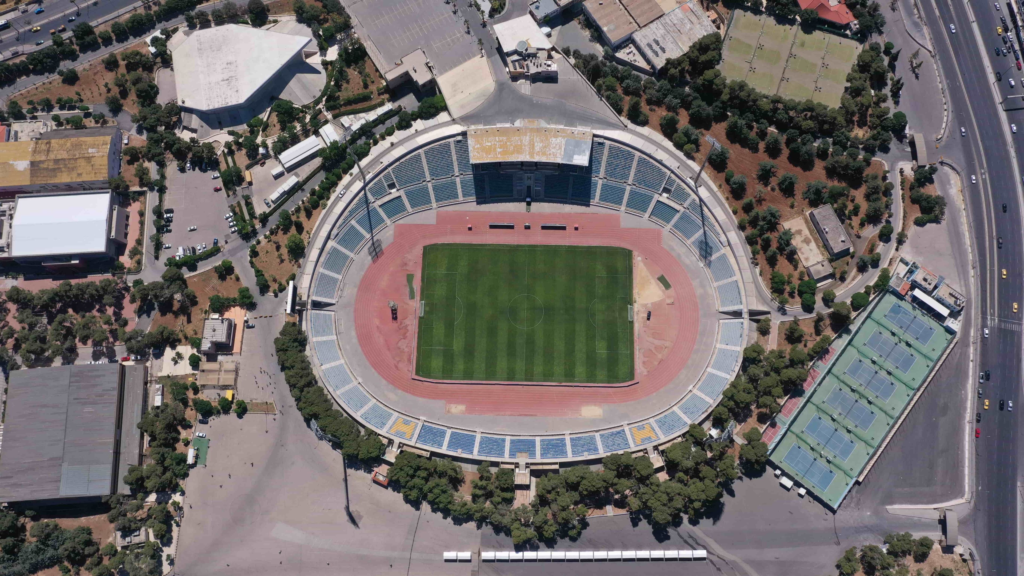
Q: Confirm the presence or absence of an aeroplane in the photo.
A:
No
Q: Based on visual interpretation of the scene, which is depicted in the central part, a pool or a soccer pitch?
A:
soccer pitch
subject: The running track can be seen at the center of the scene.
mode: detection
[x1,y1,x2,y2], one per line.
[354,211,699,418]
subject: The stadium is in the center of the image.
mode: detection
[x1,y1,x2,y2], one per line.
[285,114,771,492]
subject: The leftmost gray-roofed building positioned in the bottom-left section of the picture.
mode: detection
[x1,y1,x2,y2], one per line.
[0,363,120,504]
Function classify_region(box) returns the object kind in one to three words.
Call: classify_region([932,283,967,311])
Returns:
building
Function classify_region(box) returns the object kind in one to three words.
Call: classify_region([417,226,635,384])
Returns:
soccer field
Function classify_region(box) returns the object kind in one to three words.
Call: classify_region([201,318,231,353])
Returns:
house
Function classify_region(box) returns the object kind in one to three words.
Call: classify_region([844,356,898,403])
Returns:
tennis court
